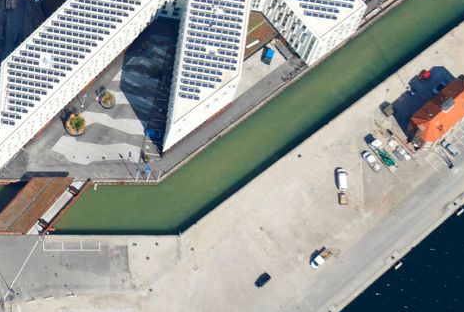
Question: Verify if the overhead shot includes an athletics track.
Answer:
No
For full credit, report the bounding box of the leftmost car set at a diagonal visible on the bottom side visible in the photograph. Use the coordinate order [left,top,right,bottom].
[254,272,270,285]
